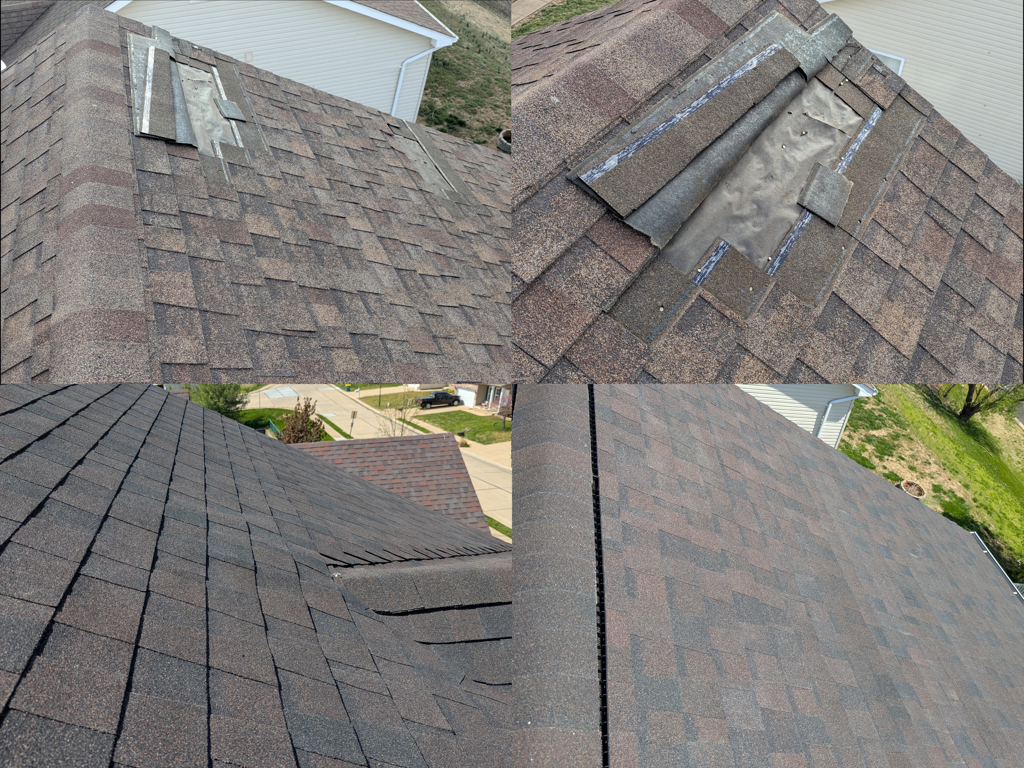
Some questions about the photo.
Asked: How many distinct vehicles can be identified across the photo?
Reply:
one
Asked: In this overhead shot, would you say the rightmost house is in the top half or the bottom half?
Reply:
top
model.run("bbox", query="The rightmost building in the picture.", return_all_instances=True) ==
[822,0,1024,165]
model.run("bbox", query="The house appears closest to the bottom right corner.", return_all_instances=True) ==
[735,384,882,448]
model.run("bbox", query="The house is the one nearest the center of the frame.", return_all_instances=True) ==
[448,384,511,412]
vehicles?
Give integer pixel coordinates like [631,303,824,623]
[413,389,466,409]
